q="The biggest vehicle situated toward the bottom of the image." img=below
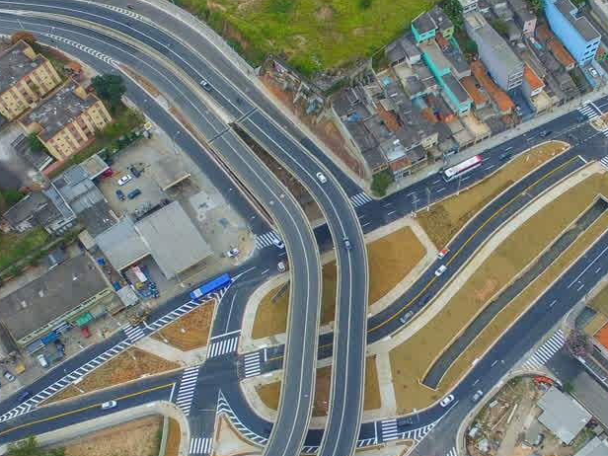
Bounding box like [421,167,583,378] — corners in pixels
[187,271,232,300]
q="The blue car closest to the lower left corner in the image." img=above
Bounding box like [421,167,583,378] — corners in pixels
[14,390,32,404]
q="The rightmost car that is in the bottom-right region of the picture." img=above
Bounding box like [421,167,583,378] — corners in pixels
[468,389,484,403]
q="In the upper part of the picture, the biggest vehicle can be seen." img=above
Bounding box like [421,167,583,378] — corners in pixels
[443,152,483,179]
